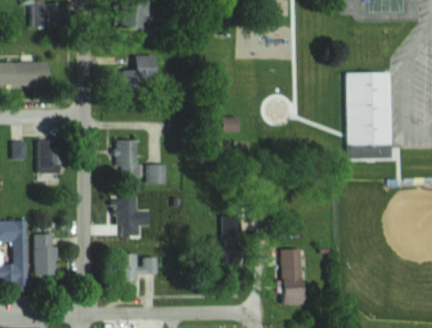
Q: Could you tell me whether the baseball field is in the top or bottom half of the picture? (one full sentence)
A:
It is in the bottom half that the baseball field appears.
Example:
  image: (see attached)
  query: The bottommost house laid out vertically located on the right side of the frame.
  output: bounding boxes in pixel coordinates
[280,249,304,306]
